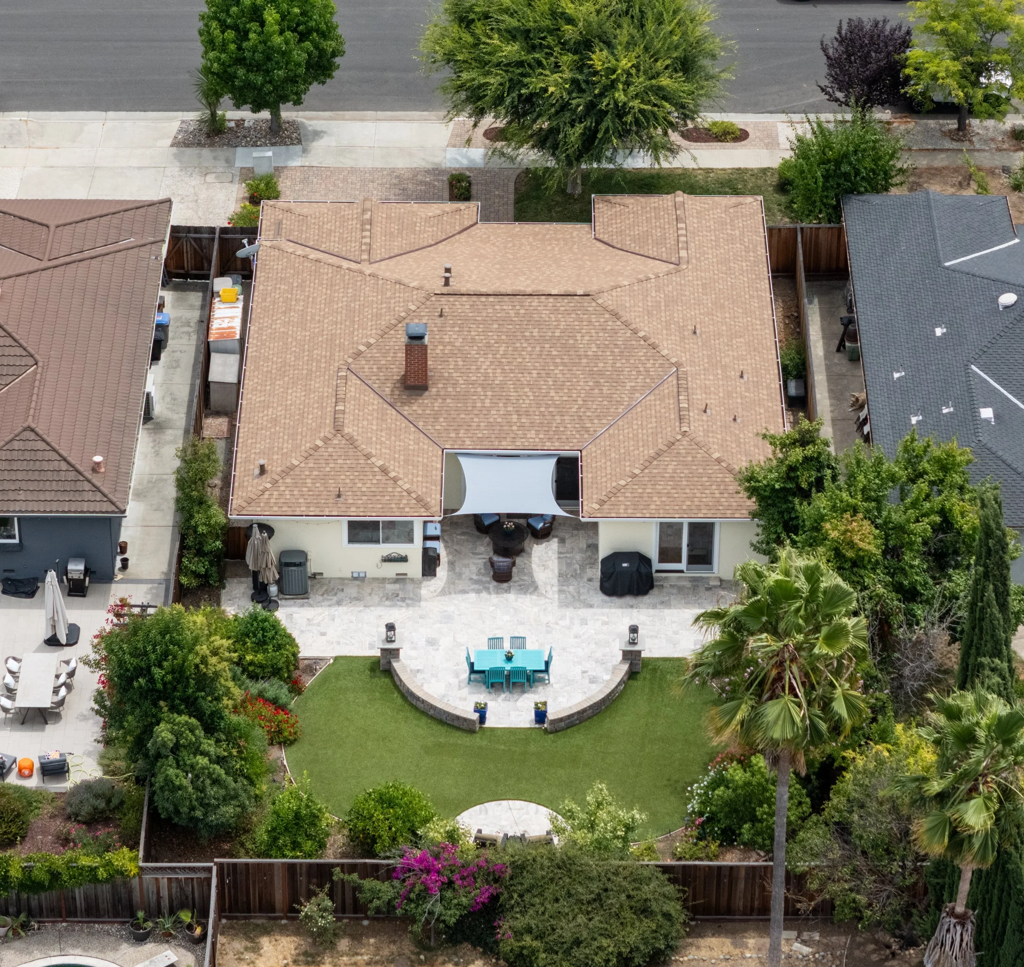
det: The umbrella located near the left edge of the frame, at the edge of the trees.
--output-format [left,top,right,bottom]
[44,560,80,644]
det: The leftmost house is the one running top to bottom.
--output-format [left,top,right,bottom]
[0,195,175,580]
